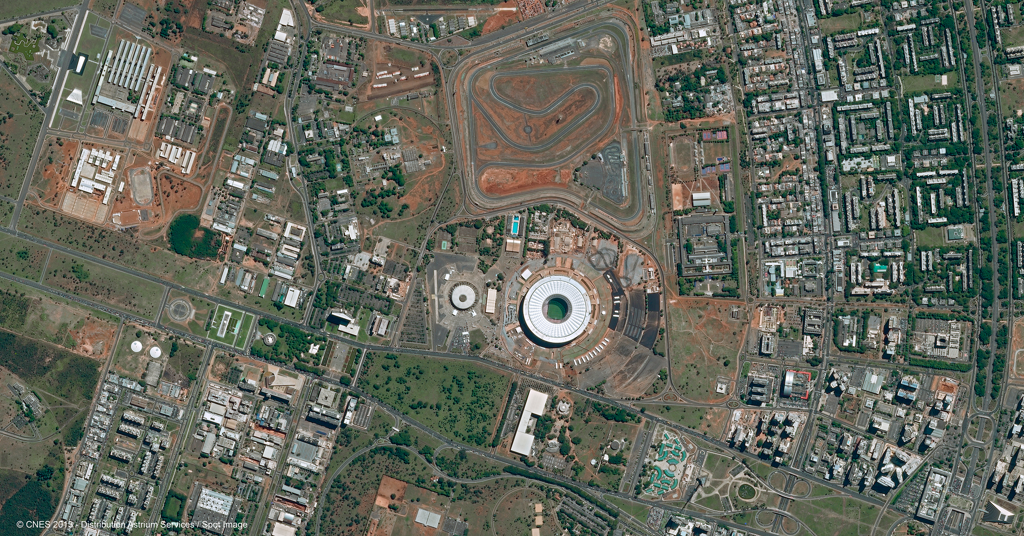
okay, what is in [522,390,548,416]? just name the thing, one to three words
building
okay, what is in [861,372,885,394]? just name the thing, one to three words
building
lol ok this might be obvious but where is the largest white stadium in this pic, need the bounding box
[516,268,598,350]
